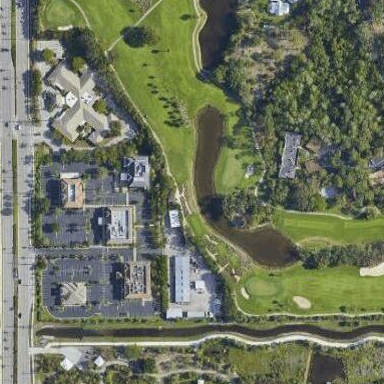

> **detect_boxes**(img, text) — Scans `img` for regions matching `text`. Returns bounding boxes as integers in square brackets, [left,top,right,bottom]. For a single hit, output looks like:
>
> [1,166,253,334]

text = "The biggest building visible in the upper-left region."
[47,61,110,135]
